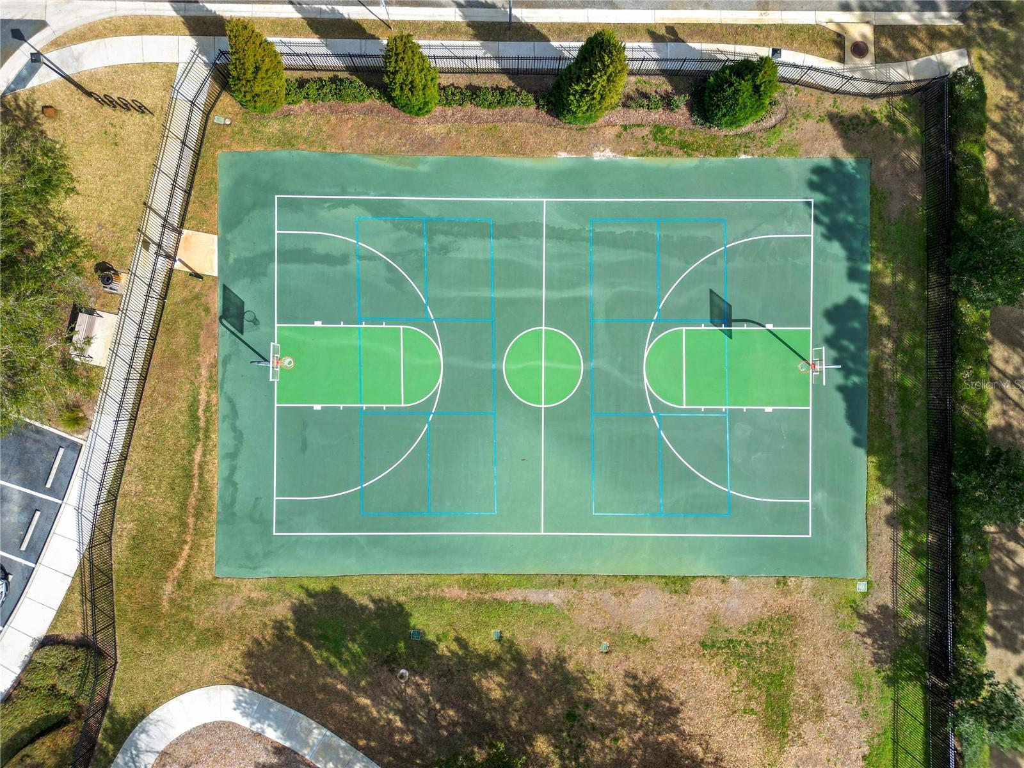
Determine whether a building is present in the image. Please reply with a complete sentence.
No, I can see no building in this picture.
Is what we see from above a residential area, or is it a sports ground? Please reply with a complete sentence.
This image shows a sports ground.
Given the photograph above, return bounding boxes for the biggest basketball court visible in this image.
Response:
[215,151,870,578]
